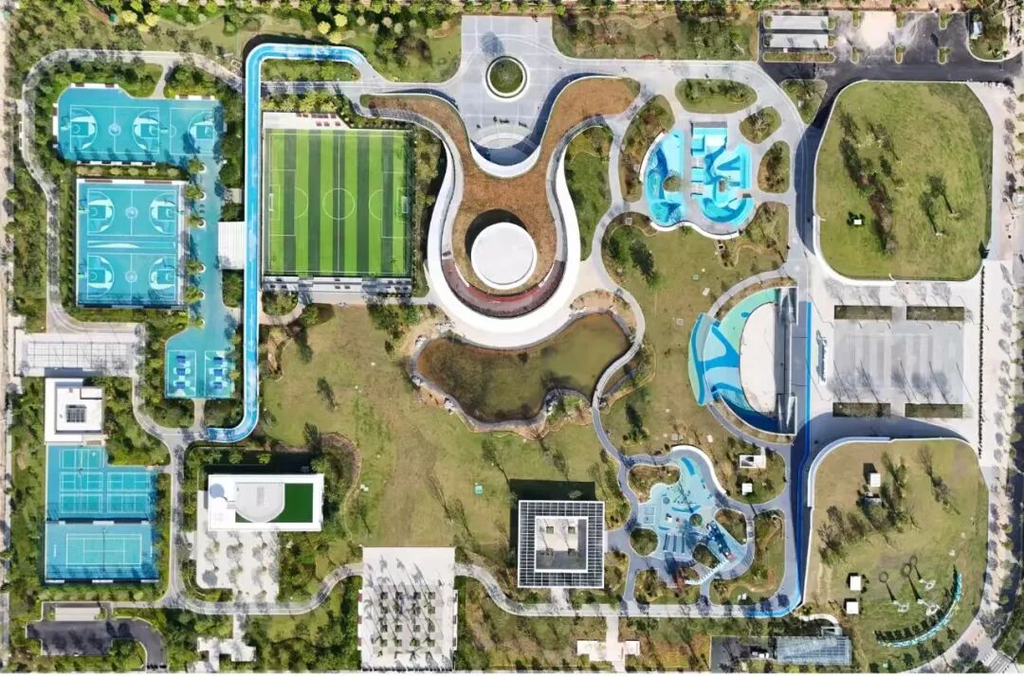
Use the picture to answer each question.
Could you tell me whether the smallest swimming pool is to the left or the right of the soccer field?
on its right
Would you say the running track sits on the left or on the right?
left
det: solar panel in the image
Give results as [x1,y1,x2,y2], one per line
[520,503,603,587]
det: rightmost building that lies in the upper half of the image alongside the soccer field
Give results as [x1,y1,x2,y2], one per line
[362,74,642,336]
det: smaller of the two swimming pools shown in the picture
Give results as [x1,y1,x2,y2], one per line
[646,128,685,225]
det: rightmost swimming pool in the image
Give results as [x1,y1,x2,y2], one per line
[690,119,756,226]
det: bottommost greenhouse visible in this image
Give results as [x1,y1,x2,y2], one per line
[771,622,852,666]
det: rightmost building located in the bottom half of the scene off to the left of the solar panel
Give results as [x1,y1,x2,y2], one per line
[208,472,328,531]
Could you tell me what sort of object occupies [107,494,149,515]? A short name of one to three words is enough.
sports court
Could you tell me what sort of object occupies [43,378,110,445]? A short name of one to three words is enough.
building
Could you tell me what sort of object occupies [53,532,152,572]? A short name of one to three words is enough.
tennis court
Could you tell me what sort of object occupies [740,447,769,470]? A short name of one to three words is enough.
shed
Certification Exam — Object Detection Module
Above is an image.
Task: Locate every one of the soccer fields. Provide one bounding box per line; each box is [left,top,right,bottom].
[264,129,409,275]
